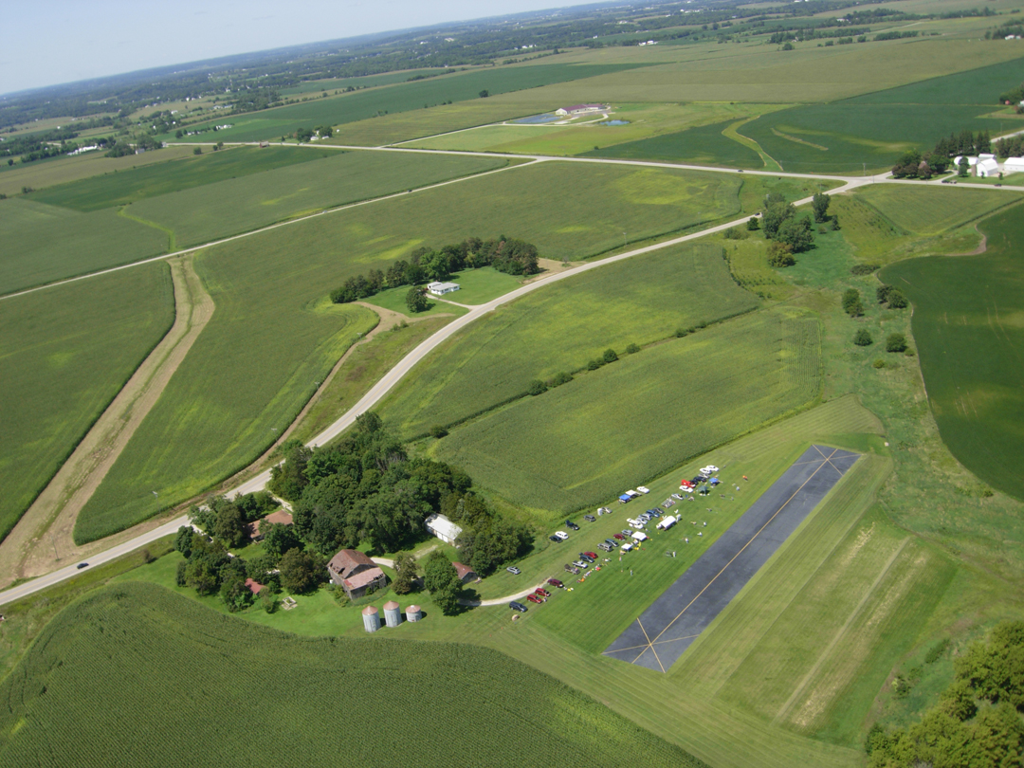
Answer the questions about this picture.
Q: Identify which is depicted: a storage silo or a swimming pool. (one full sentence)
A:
Of the two, only a storage silo appears.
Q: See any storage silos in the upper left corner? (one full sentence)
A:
No, no storage silo is visible in the upper left corner.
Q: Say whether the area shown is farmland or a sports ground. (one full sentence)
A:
What you see here is farmland.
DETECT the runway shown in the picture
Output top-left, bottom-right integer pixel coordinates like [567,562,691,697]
[605,446,862,674]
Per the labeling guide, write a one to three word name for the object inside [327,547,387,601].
barn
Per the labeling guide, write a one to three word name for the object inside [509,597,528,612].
car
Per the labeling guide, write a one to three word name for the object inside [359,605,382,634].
silo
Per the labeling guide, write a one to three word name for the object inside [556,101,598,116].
building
